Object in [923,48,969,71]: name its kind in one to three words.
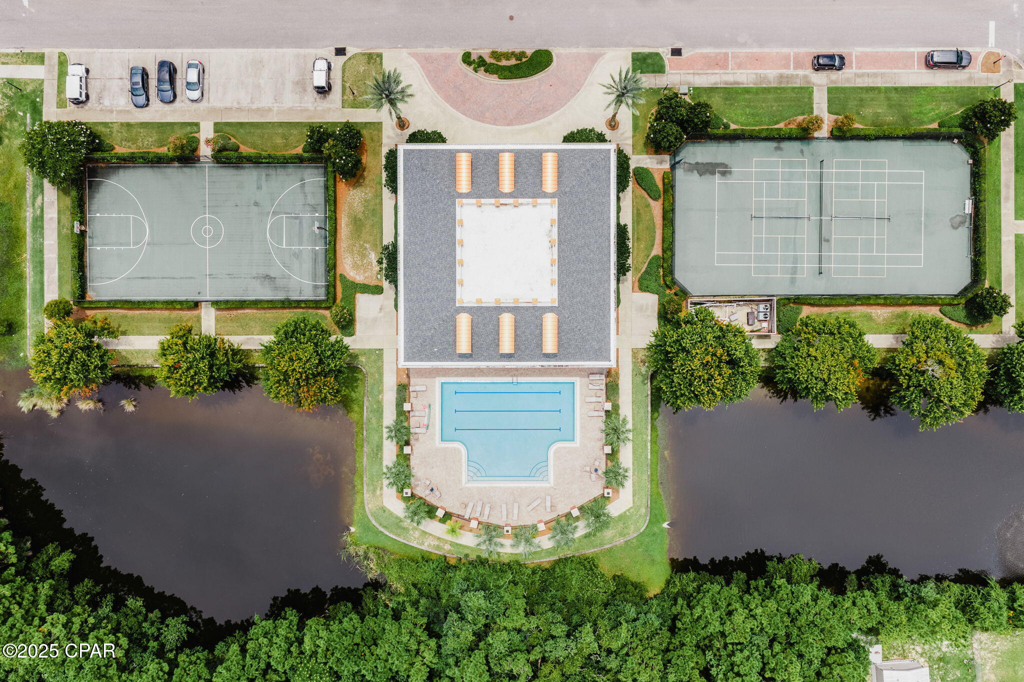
car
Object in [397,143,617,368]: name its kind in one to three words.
building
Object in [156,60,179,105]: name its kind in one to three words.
car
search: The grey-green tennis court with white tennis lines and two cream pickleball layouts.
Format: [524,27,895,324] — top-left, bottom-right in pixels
[671,140,972,296]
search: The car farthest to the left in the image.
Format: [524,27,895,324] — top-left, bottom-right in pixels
[66,66,91,105]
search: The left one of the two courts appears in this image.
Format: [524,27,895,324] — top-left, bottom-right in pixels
[85,162,328,301]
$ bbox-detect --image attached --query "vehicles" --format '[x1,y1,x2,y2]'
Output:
[312,59,332,93]
[184,60,206,104]
[129,66,152,110]
[66,66,91,105]
[156,60,179,105]
[923,48,969,71]
[809,52,845,72]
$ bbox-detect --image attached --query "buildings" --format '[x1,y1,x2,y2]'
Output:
[874,660,944,682]
[397,143,617,368]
